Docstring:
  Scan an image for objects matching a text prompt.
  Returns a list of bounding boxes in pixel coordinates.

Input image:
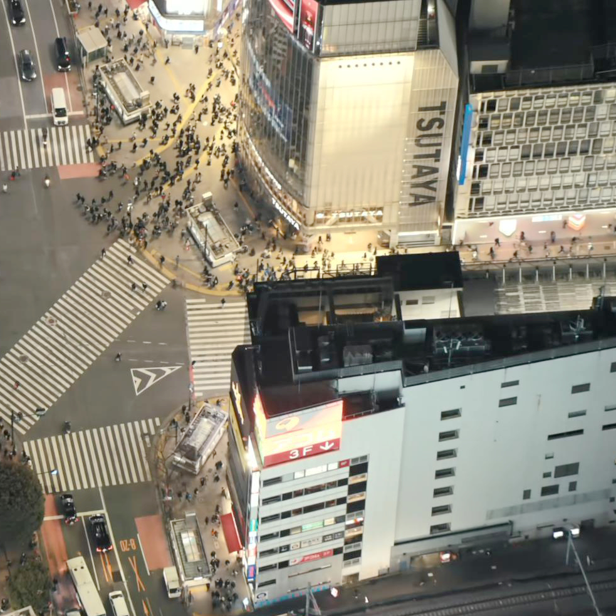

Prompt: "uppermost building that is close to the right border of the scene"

[454,0,616,249]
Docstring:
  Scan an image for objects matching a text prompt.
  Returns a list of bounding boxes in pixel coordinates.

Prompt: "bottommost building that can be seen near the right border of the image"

[391,284,616,569]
